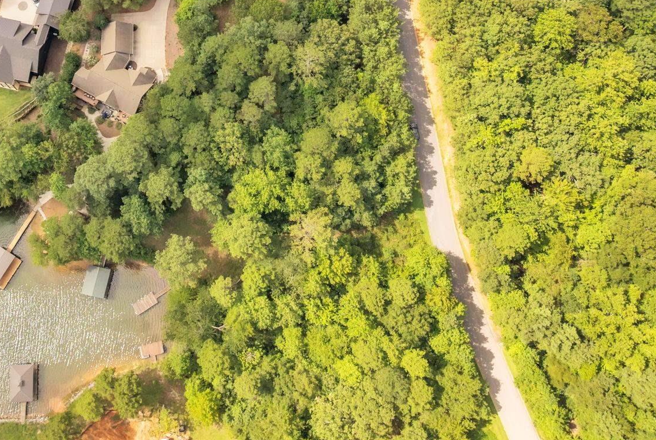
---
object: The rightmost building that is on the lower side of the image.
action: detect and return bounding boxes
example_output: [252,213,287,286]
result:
[82,261,115,299]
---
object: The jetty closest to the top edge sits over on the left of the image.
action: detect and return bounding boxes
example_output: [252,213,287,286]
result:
[132,290,165,315]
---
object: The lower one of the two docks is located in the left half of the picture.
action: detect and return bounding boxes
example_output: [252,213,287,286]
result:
[139,341,164,362]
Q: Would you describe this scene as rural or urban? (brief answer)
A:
rural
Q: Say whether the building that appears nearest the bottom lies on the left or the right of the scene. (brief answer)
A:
left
